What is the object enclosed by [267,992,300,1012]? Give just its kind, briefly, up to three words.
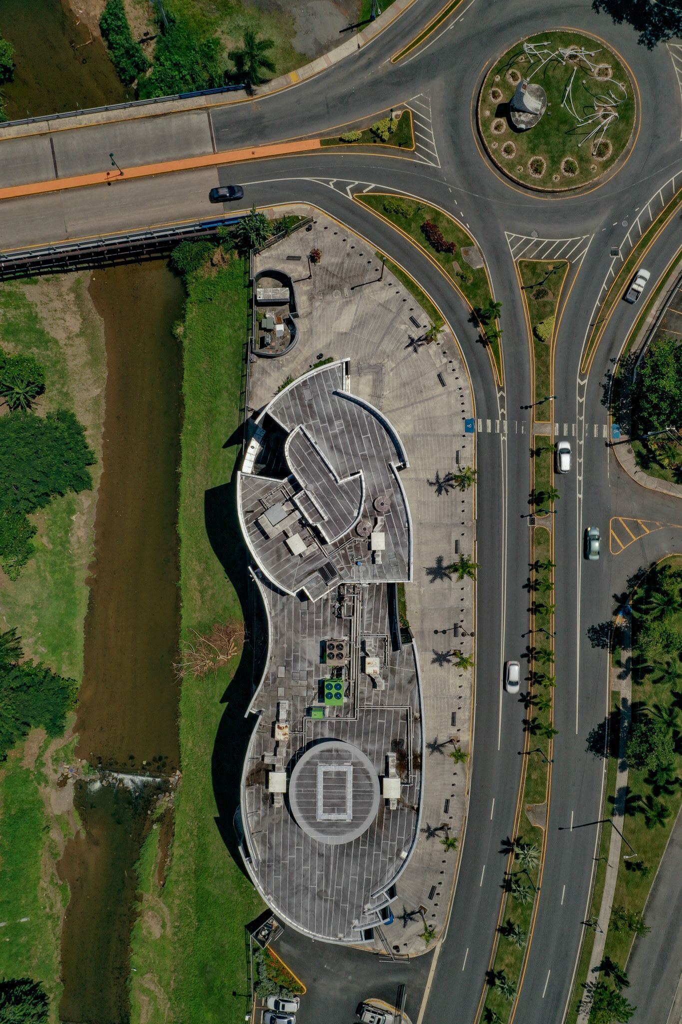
car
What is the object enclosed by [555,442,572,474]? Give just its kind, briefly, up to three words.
car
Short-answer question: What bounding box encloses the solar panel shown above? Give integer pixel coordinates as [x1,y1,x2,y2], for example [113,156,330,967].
[317,562,338,582]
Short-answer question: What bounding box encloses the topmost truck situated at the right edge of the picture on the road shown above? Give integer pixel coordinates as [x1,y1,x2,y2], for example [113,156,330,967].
[622,268,650,308]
